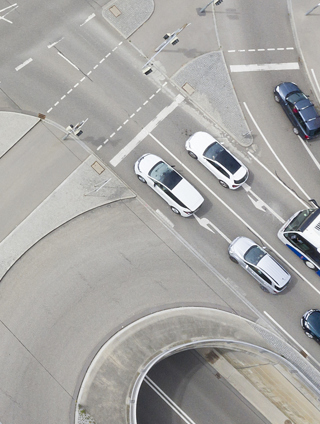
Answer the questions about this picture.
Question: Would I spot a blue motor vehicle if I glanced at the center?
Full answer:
No, there is no blue motor vehicle at the center.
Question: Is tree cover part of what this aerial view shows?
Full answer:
No, the picture contains no tree cover.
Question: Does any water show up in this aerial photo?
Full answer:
No, no water is visible.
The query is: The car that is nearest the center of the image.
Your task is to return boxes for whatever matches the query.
[131,160,205,223]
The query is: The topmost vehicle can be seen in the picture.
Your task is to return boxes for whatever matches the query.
[272,81,320,146]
